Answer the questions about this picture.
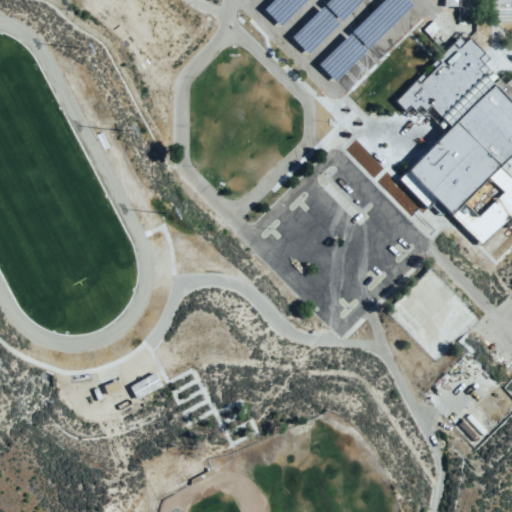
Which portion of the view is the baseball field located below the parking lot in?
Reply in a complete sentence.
Look in the bottom portion of the view to spot the baseball field located below the parking lot.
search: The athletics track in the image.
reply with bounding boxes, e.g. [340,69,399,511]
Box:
[0,13,157,354]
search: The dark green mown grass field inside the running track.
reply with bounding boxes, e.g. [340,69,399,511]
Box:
[0,34,137,334]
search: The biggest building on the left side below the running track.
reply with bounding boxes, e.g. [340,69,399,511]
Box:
[131,372,164,399]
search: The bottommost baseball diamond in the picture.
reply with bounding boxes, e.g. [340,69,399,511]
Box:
[159,414,402,512]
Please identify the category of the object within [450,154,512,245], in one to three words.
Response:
building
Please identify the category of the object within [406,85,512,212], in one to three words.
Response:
building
